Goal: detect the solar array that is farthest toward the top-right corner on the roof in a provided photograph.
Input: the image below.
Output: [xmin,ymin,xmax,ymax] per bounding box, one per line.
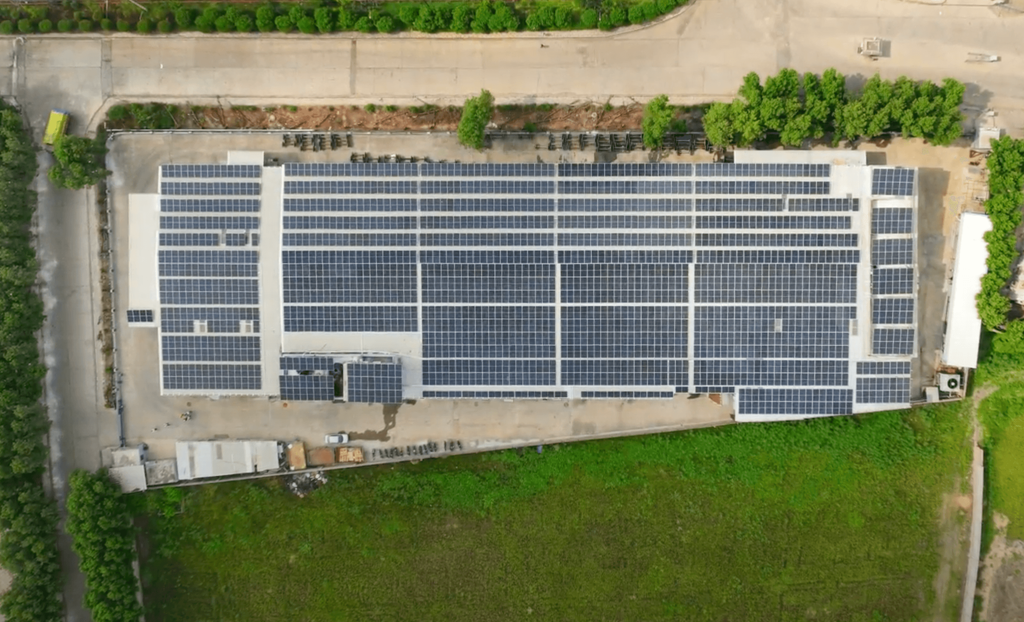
[872,169,914,195]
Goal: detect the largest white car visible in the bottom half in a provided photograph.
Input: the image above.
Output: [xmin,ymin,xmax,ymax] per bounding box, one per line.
[324,434,348,446]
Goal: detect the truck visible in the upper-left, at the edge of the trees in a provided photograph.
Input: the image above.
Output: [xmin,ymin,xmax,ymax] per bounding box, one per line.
[42,109,70,147]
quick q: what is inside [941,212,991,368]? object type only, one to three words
shed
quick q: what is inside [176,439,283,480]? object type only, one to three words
shed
